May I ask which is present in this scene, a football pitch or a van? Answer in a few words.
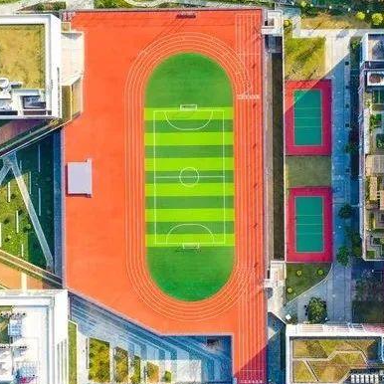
football pitch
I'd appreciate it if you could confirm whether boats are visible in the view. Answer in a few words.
No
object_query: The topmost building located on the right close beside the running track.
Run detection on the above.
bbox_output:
[264,9,283,29]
